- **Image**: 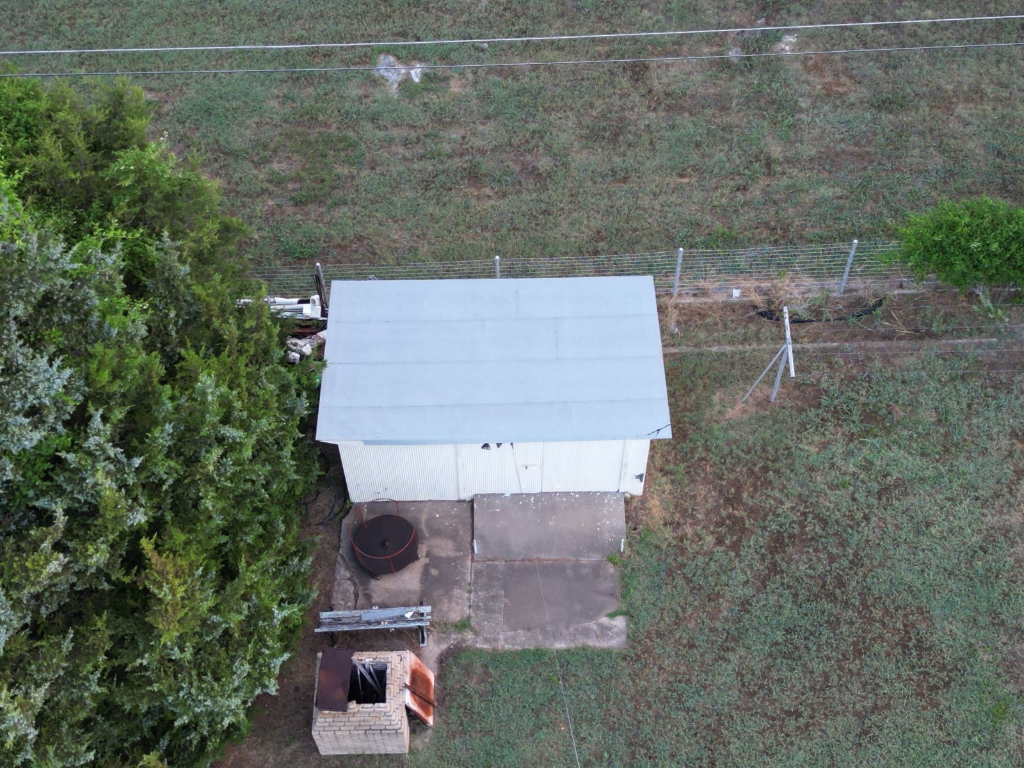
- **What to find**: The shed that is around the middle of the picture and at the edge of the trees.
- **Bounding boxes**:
[316,276,671,501]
